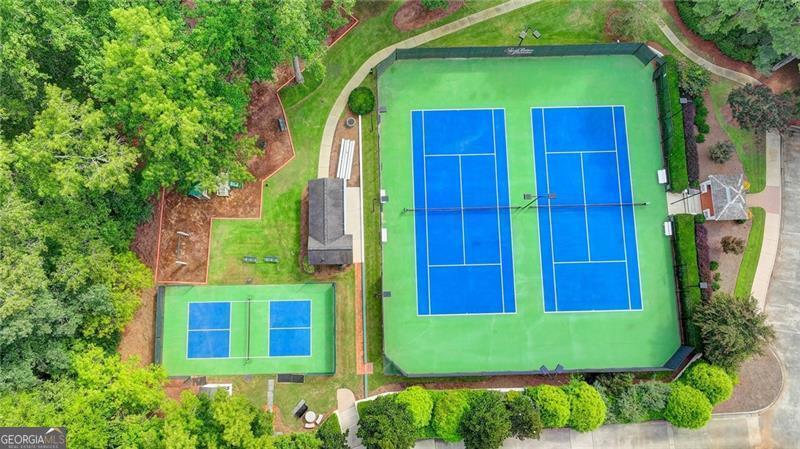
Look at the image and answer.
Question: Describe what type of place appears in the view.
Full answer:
The picture captures a sports ground.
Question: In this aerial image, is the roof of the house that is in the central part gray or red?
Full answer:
The roof of the house that is in the central part looks gray in the image.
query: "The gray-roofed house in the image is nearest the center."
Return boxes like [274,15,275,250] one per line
[306,176,353,269]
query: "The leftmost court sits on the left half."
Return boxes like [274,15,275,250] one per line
[162,283,332,376]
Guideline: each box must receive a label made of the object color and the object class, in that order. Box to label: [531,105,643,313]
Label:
blue tennis court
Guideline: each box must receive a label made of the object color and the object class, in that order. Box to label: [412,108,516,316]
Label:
blue tennis court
